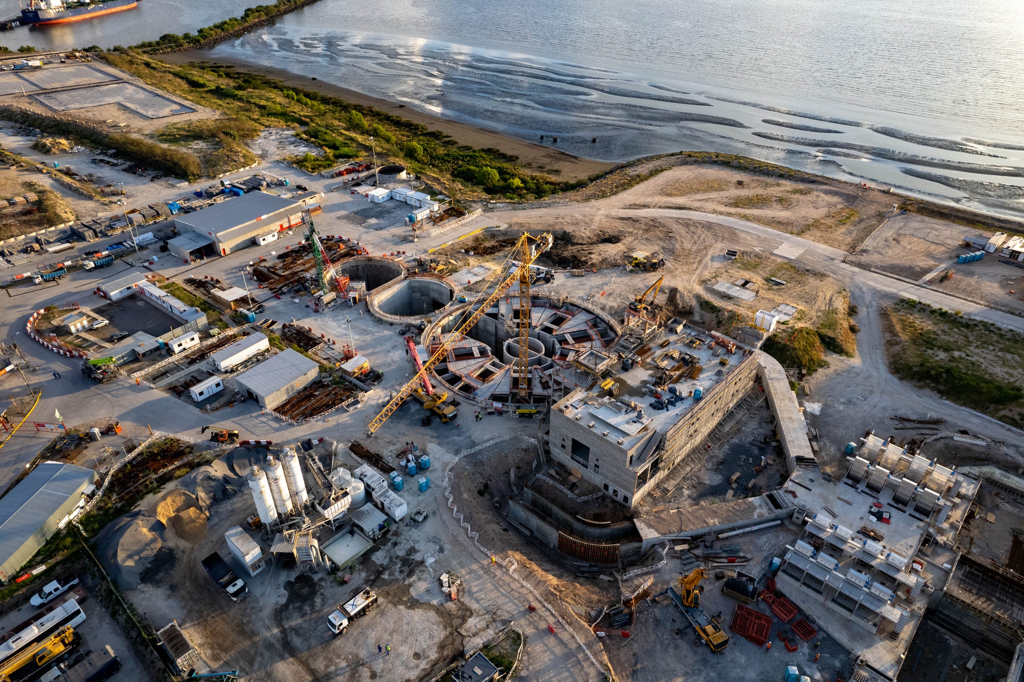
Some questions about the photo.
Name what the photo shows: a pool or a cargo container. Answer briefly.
cargo container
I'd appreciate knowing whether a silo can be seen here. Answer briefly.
Yes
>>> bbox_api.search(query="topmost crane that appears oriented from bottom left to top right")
[363,234,563,443]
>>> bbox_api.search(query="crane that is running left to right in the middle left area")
[72,361,117,383]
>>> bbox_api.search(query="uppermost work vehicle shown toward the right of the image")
[637,258,667,273]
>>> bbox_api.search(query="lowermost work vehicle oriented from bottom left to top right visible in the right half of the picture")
[626,275,664,317]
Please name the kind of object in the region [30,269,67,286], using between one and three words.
vehicle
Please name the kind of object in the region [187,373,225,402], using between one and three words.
building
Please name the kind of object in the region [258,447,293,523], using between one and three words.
silo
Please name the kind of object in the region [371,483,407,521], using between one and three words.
shipping container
